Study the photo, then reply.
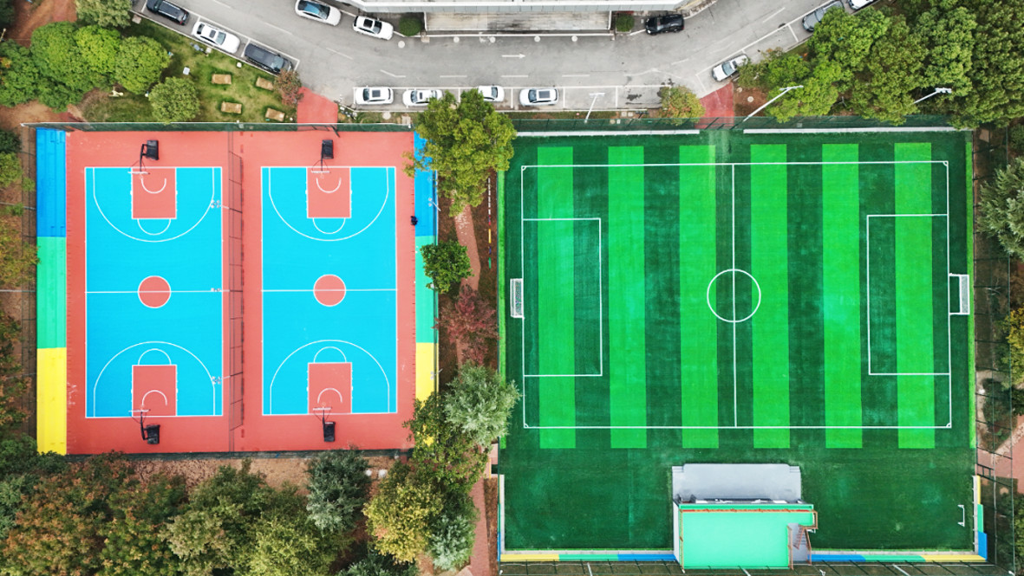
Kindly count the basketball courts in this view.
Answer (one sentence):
There are 2 basketball courts in the image.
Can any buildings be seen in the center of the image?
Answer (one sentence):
No, looking in the center of the image, there is no building.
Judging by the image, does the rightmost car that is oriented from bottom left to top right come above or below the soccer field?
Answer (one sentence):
The rightmost car that is oriented from bottom left to top right appears above the soccer field in the picture.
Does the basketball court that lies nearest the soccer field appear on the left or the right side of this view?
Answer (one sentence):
You can find the basketball court that lies nearest the soccer field on the left side of the picture.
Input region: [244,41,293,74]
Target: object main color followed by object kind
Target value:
gray car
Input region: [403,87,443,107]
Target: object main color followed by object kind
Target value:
white car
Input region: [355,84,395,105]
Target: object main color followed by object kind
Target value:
white car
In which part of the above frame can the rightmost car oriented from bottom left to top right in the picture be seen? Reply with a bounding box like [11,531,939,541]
[801,0,844,33]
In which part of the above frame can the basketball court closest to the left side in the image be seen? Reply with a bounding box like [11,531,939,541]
[66,132,242,454]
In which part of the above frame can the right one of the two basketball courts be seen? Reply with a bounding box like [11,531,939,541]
[242,132,415,452]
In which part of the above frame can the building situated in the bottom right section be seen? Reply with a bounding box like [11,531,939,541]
[673,494,817,572]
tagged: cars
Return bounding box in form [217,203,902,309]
[352,15,394,41]
[709,52,752,84]
[643,13,686,36]
[192,21,240,53]
[355,84,395,105]
[295,0,341,27]
[145,0,192,27]
[403,87,443,107]
[801,0,844,33]
[520,86,559,107]
[244,41,293,74]
[466,83,506,104]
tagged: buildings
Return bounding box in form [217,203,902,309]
[342,0,689,12]
[673,494,817,572]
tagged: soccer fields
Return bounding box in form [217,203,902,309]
[499,128,977,556]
